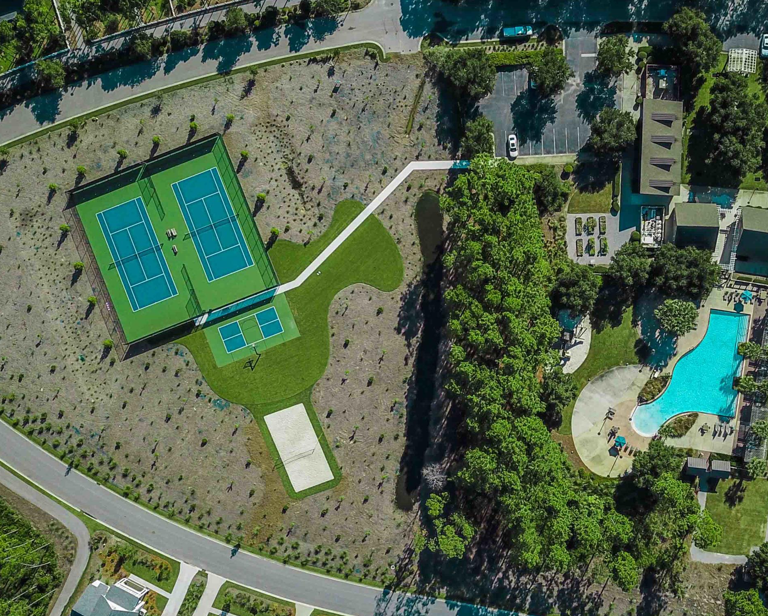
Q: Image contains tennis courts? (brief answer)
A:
Yes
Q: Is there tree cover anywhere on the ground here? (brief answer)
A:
Yes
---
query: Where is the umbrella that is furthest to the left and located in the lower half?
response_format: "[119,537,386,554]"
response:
[613,435,627,448]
